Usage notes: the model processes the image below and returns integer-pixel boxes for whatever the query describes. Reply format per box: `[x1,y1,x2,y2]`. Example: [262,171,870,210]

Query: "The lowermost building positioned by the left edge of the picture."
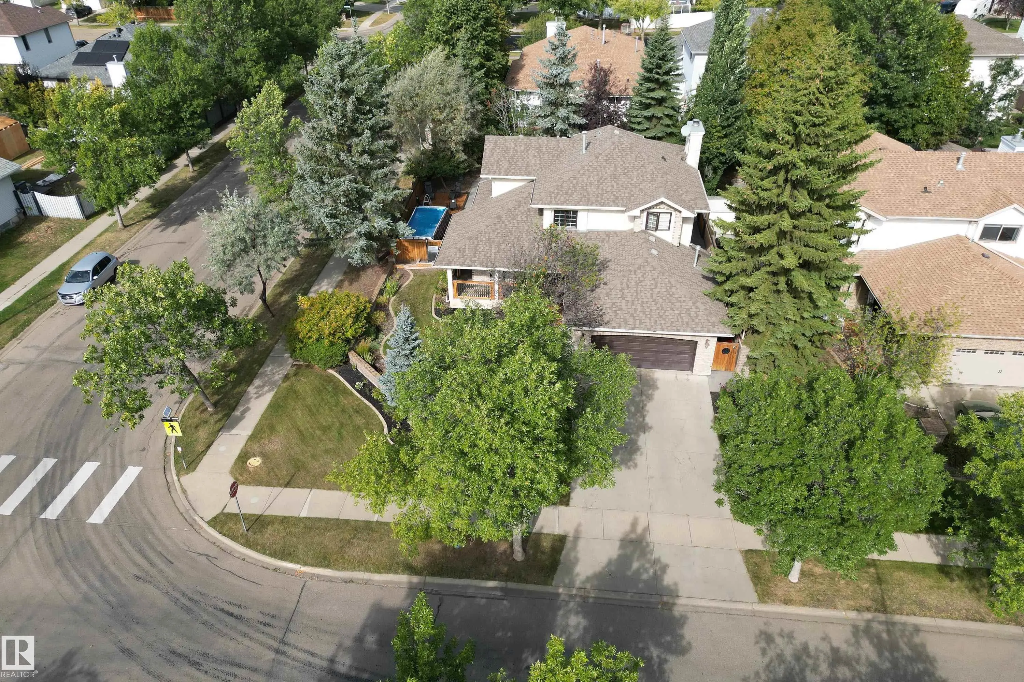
[0,169,41,227]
